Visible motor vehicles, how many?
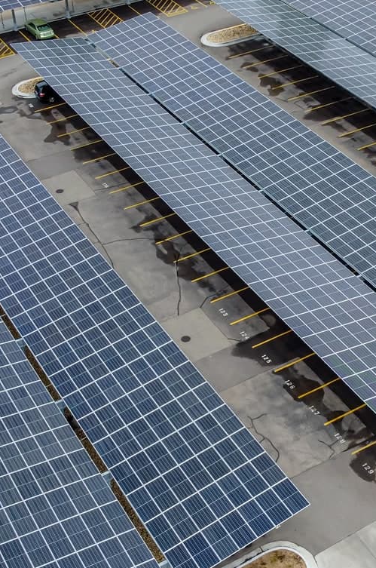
2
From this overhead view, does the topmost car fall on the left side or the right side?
left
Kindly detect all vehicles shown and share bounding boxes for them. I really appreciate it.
[35,80,61,104]
[22,18,53,40]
